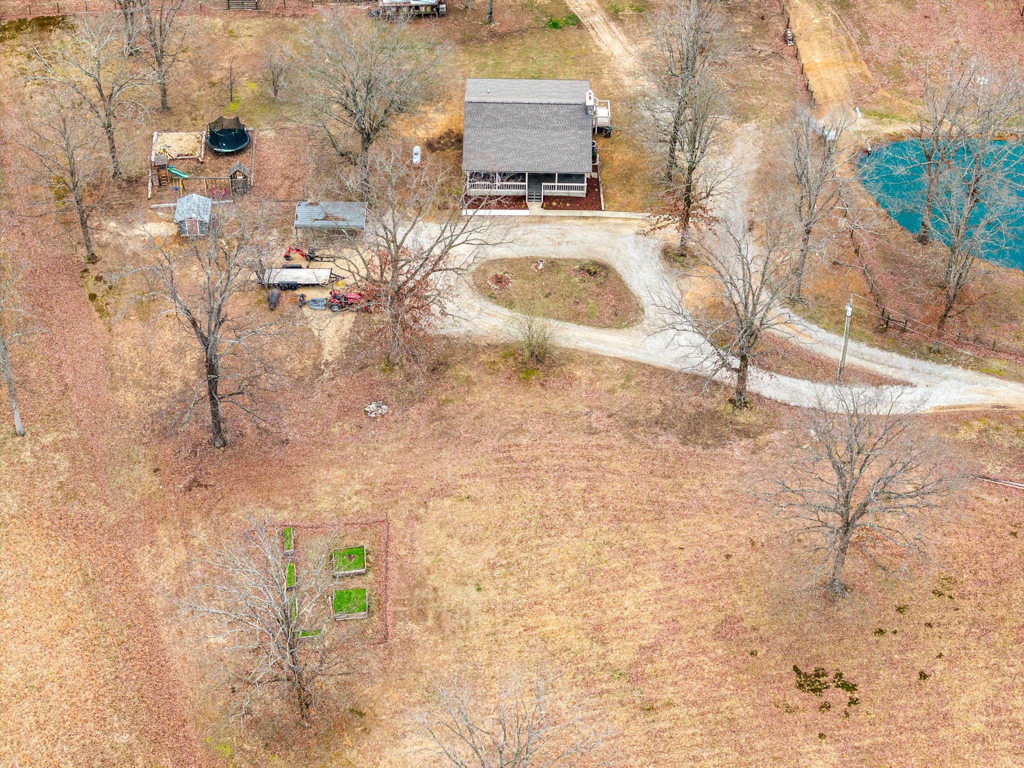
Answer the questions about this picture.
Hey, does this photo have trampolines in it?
Yes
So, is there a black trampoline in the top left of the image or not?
Yes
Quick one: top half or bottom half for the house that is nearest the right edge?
top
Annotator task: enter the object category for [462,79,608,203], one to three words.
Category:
house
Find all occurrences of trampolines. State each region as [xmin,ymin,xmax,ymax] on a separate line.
[206,115,249,160]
